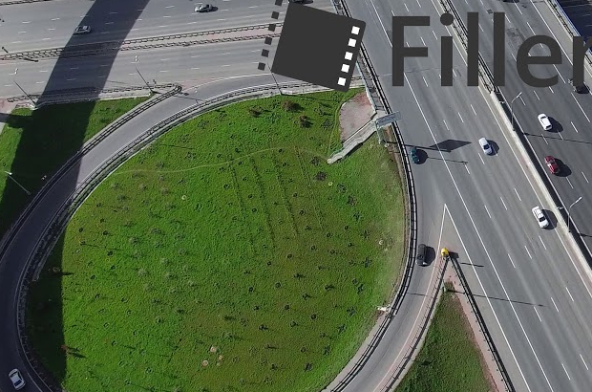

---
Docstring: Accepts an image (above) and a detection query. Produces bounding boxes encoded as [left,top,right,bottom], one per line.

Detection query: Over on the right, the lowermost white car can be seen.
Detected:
[531,206,549,229]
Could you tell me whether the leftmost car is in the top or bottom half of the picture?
bottom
